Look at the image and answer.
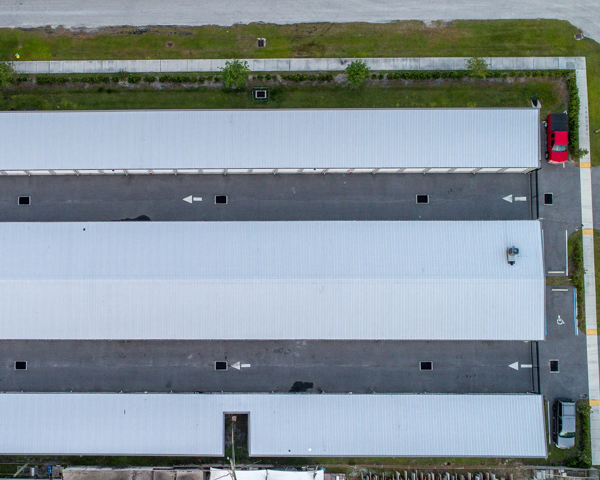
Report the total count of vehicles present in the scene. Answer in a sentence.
Looking from above, you can make out 2 vehicles.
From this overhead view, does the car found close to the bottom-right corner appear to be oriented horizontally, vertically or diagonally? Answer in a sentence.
Seen from above, the car found close to the bottom-right corner lies vertically.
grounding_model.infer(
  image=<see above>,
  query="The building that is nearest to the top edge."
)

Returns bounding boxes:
[0,107,541,178]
